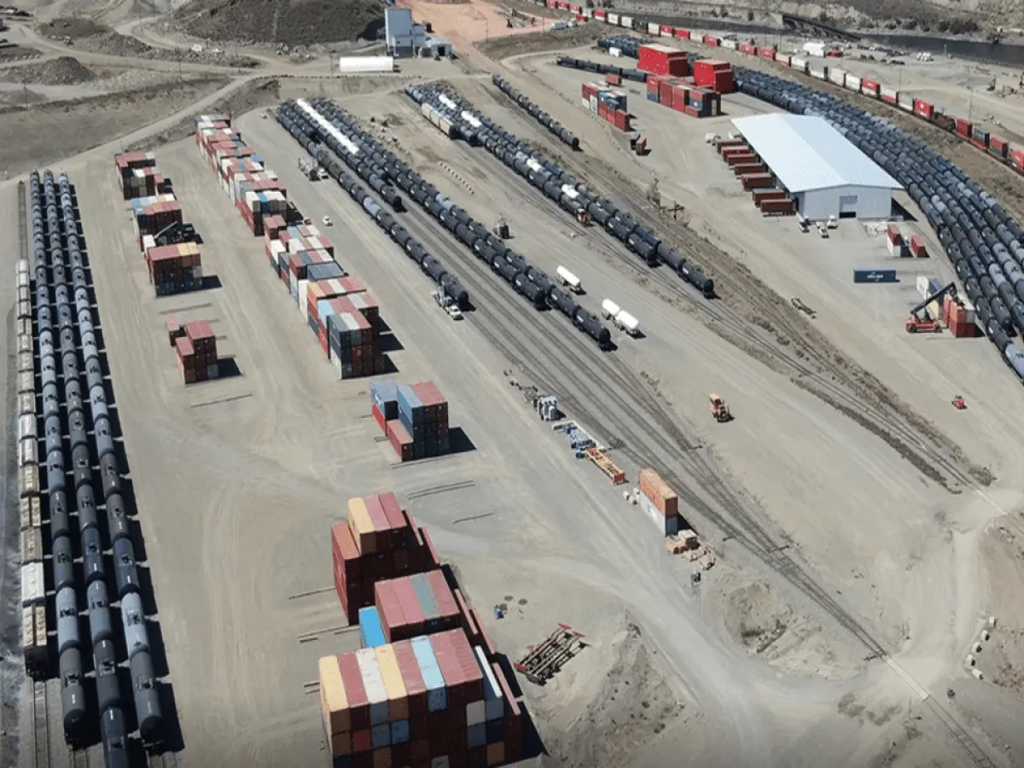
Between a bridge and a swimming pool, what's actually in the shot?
bridge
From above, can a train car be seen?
Yes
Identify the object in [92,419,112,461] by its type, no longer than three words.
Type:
rail car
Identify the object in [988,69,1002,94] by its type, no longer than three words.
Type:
work vehicle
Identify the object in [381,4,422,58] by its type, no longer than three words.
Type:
building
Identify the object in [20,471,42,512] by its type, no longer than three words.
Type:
rail car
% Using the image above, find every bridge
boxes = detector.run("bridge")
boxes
[766,10,864,45]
